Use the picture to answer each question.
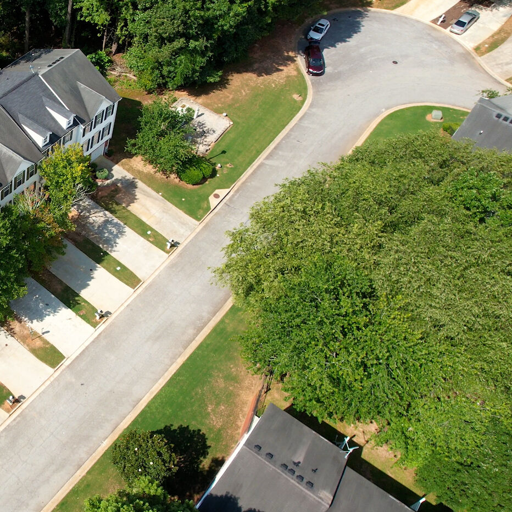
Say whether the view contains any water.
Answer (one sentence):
No, water can't be seen anywhere here.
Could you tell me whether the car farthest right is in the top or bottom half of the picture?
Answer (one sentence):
You can find the car farthest right in the top half.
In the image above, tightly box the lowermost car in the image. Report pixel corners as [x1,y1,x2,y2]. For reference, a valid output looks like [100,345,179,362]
[302,37,326,75]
